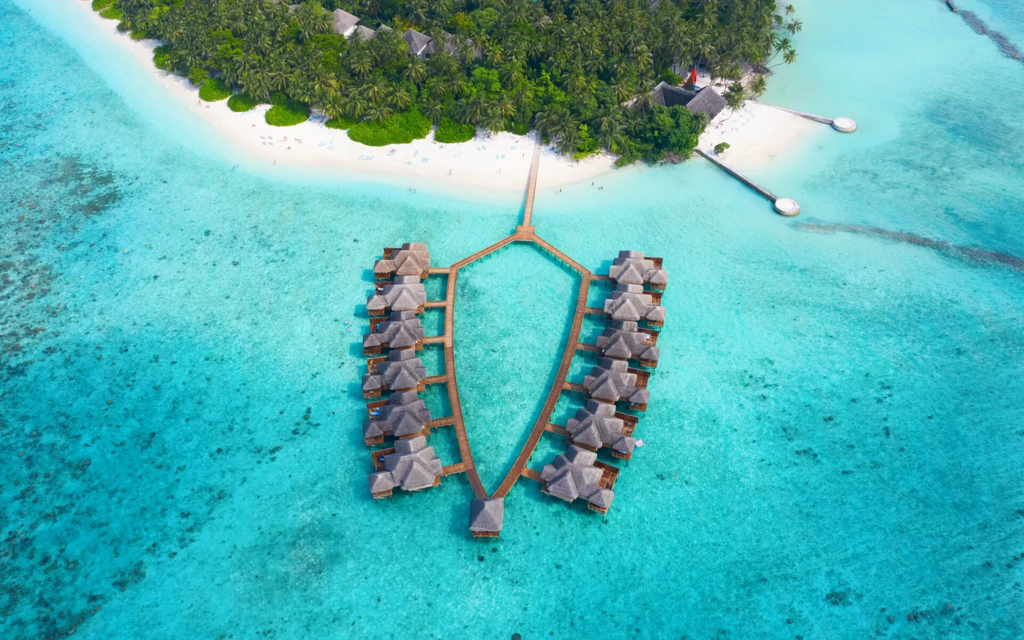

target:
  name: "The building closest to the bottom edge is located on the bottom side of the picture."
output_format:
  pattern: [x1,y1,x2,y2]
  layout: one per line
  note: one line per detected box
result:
[469,498,504,549]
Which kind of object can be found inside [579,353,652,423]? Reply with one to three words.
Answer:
house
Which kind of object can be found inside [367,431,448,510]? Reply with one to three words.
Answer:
house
